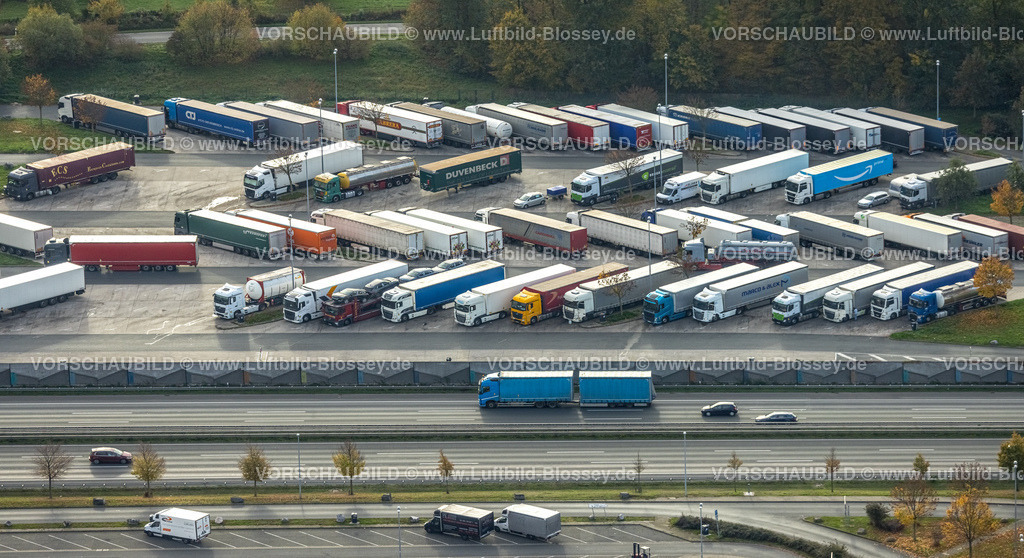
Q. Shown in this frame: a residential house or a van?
van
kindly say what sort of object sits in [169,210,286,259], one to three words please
truck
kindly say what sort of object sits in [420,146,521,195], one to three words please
trailer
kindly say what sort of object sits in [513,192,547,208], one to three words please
car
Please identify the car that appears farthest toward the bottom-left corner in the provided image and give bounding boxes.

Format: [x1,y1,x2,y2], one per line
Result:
[90,449,132,464]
